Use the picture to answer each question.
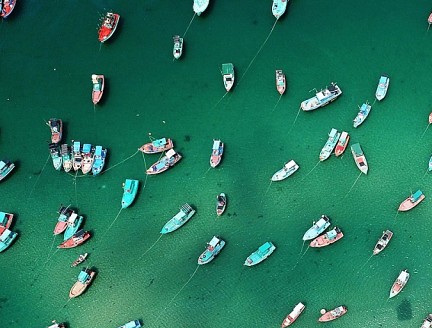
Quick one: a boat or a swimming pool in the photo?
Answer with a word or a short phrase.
boat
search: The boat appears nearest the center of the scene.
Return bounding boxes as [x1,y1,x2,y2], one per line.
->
[210,135,226,168]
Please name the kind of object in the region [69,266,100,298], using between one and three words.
boat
